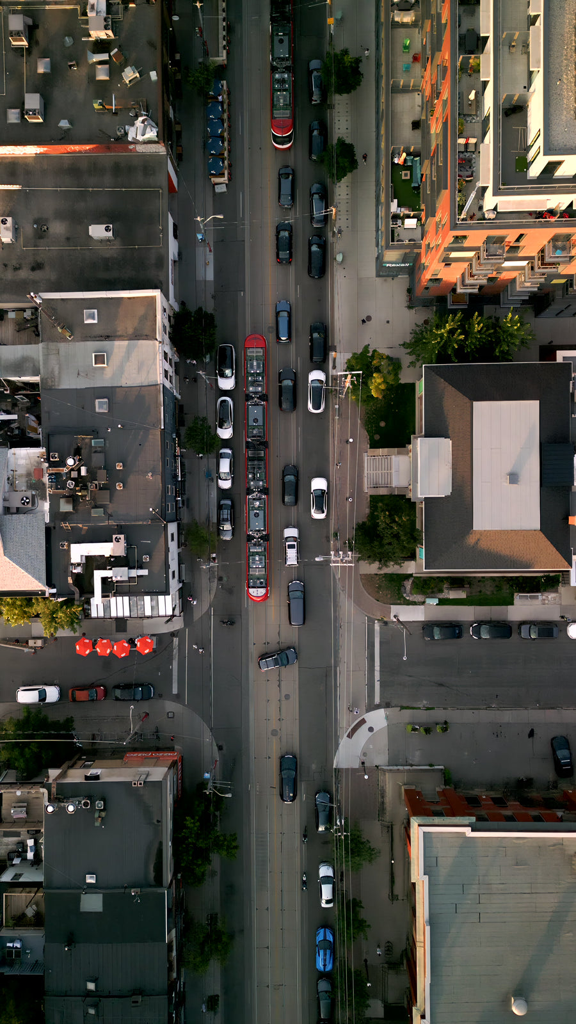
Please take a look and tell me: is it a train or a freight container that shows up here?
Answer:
train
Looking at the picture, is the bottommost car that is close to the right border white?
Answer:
No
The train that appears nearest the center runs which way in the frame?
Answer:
vertically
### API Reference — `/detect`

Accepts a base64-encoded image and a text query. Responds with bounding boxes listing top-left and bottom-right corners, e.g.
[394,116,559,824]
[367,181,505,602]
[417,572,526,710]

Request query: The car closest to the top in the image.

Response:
[307,63,326,105]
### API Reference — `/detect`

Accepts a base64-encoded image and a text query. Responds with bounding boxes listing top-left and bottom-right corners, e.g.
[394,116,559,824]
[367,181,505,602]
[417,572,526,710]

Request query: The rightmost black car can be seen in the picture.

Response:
[550,734,572,777]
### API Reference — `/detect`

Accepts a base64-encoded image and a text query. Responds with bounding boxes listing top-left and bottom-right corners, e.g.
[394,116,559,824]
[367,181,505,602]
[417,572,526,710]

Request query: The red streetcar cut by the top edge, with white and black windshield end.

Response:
[270,0,294,152]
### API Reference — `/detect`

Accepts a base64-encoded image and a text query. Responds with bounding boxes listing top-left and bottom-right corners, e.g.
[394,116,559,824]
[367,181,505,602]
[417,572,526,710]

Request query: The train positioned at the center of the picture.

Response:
[244,336,270,601]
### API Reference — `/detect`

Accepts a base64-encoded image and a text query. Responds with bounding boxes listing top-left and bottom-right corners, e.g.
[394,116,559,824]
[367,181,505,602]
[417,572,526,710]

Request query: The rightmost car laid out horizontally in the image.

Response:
[518,622,557,641]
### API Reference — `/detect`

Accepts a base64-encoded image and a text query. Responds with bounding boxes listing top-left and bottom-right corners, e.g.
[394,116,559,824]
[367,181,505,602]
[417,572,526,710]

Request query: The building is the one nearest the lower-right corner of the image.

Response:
[402,789,576,1024]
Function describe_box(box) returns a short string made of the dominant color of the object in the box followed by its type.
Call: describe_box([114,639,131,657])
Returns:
red umbrella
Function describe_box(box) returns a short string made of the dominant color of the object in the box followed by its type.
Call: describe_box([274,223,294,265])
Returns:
black car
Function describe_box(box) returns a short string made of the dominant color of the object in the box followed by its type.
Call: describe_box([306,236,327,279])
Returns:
black car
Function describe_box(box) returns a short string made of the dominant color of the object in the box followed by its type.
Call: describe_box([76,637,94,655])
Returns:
red umbrella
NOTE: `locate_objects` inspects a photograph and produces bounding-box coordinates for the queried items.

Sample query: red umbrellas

[95,638,113,656]
[114,639,131,657]
[76,637,94,655]
[136,636,154,654]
